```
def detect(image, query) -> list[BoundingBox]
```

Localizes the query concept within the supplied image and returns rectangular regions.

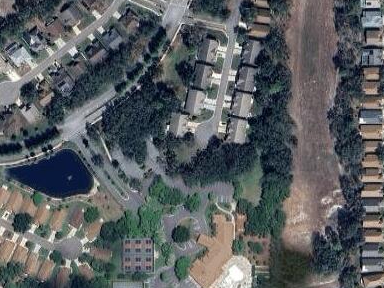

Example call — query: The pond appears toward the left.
[6,149,95,197]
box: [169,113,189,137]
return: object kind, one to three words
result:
house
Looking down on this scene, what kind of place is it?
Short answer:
residential area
